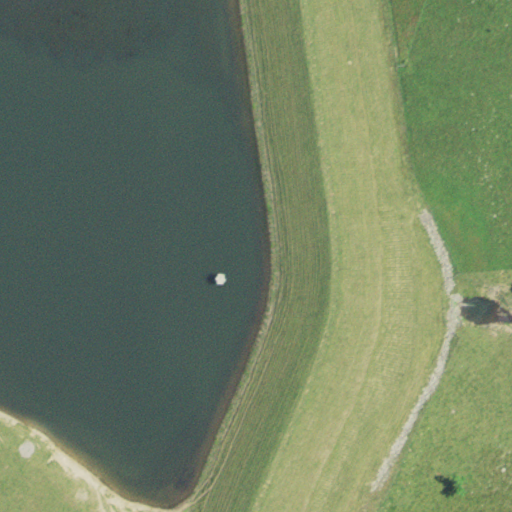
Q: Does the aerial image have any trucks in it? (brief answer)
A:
No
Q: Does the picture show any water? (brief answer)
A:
Yes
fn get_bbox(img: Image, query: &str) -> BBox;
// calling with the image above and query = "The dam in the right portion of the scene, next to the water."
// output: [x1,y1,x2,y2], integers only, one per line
[182,0,464,512]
